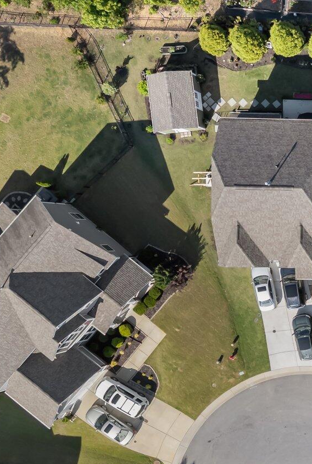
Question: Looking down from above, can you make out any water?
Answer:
No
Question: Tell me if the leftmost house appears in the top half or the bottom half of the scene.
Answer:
bottom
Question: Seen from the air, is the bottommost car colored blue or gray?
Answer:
gray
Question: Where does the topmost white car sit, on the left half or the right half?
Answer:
right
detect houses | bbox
[211,116,312,280]
[0,194,159,430]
